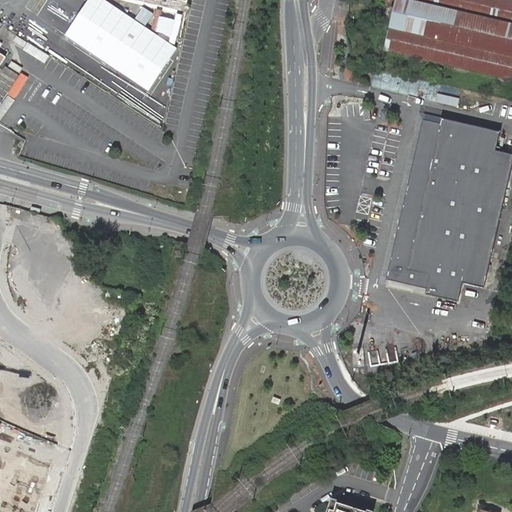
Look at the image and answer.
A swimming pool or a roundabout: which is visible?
roundabout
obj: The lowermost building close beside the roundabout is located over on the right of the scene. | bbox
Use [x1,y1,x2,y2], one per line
[385,119,512,301]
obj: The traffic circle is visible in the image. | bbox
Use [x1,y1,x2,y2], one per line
[242,228,349,334]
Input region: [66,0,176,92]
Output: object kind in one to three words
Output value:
building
